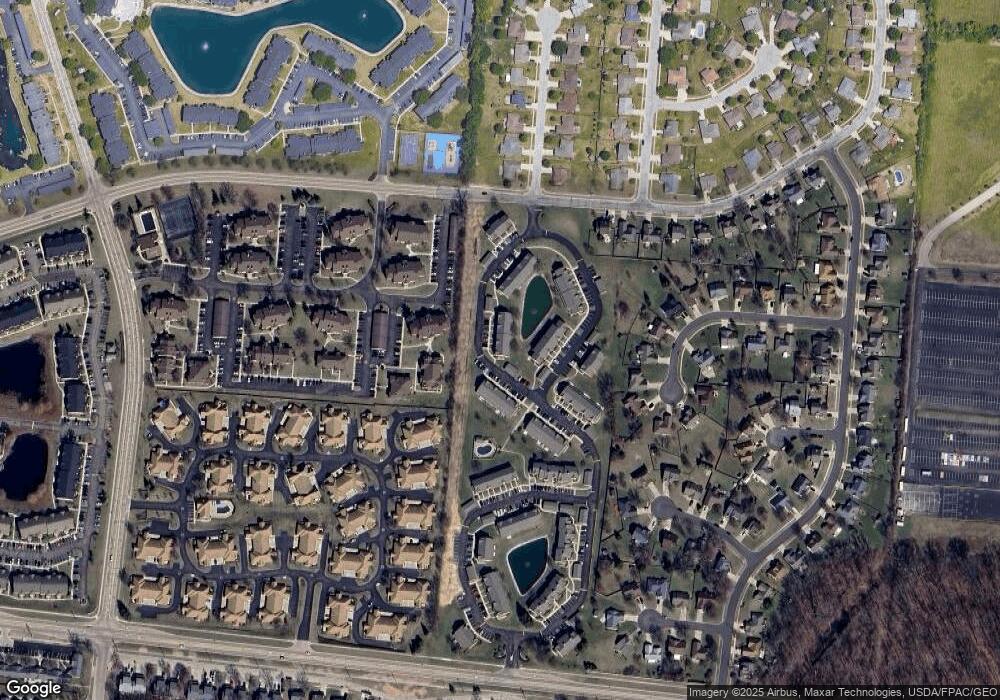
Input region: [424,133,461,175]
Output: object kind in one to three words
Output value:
sports court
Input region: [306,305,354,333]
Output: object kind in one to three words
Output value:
building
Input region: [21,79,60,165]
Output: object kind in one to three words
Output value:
building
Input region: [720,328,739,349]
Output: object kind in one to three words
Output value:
house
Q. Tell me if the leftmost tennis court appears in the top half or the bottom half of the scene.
top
